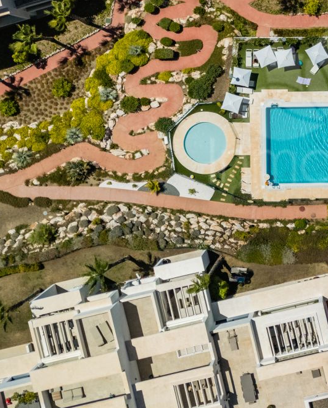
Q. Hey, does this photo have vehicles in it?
No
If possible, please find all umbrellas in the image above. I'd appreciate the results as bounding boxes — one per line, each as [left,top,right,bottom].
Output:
[231,67,252,87]
[223,91,244,112]
[305,40,328,66]
[254,45,277,68]
[275,49,296,69]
